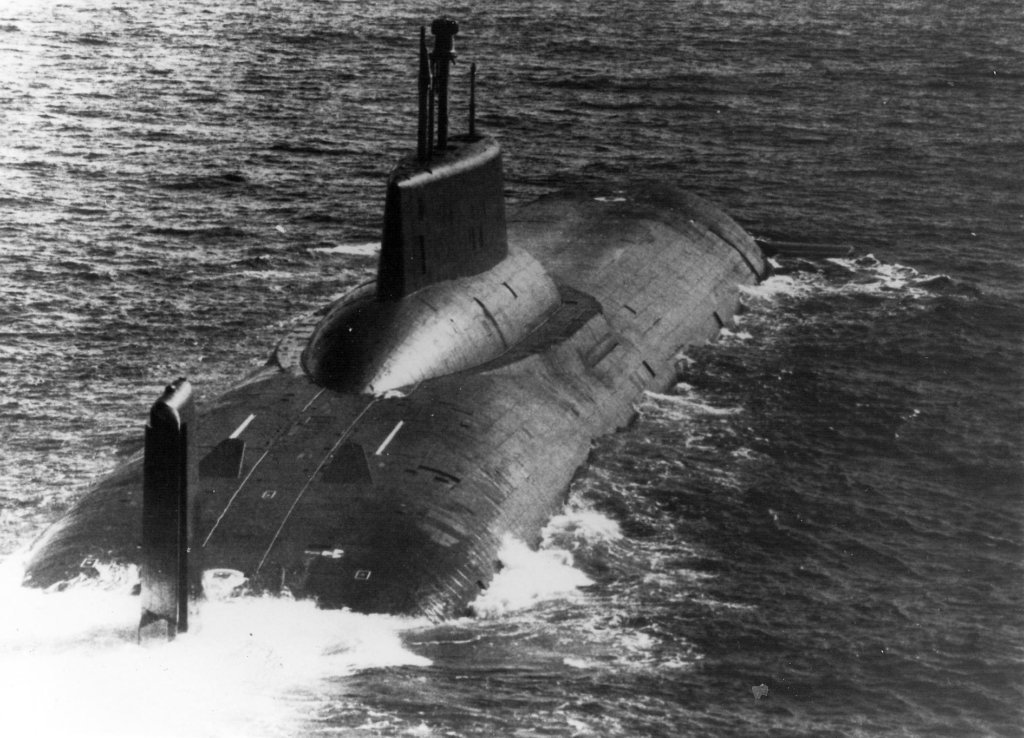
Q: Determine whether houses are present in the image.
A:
No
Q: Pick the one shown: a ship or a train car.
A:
ship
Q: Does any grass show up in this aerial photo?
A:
No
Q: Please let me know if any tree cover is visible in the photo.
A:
No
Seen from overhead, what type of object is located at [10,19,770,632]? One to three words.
ship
